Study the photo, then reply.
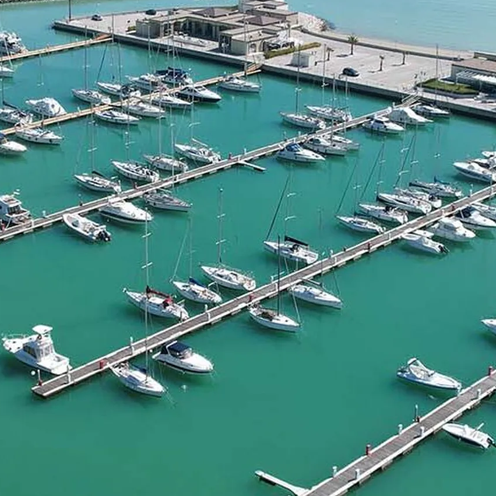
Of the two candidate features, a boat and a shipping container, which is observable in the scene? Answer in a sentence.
The image shows a boat.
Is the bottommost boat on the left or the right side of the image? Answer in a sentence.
It is on the right.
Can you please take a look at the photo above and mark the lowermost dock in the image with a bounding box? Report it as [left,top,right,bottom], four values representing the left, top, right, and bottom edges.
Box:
[255,470,314,496]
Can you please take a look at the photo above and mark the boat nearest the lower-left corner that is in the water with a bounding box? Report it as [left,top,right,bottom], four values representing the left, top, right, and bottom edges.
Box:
[0,321,68,378]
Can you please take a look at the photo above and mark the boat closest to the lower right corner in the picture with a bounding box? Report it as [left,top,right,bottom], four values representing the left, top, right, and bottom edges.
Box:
[450,423,496,457]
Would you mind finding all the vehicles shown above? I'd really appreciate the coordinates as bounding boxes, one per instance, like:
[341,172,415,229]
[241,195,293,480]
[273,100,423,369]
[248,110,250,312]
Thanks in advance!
[87,11,105,20]
[340,63,362,74]
[141,7,160,15]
